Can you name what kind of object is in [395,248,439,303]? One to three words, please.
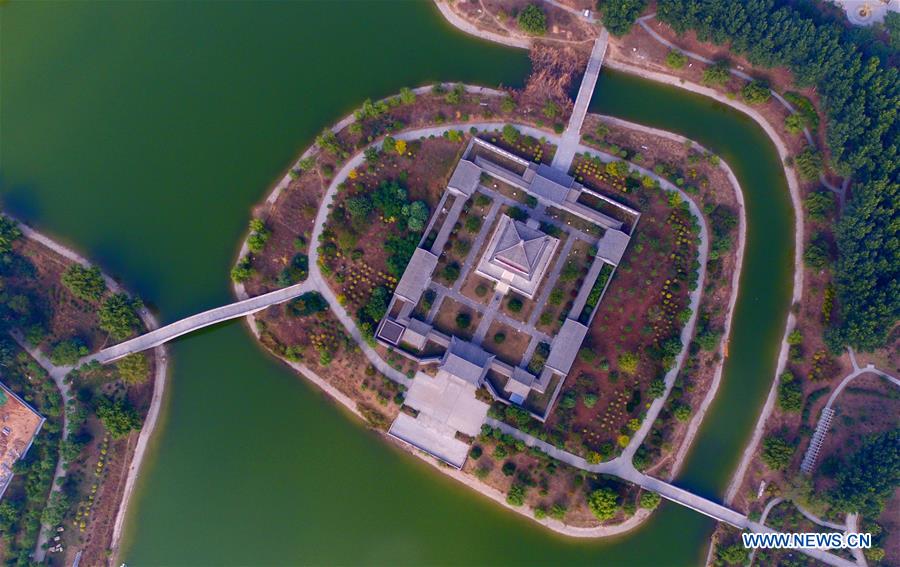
building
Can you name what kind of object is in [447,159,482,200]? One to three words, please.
building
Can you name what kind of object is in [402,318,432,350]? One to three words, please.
house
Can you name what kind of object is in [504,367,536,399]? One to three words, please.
house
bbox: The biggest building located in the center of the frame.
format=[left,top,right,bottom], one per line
[475,214,560,300]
